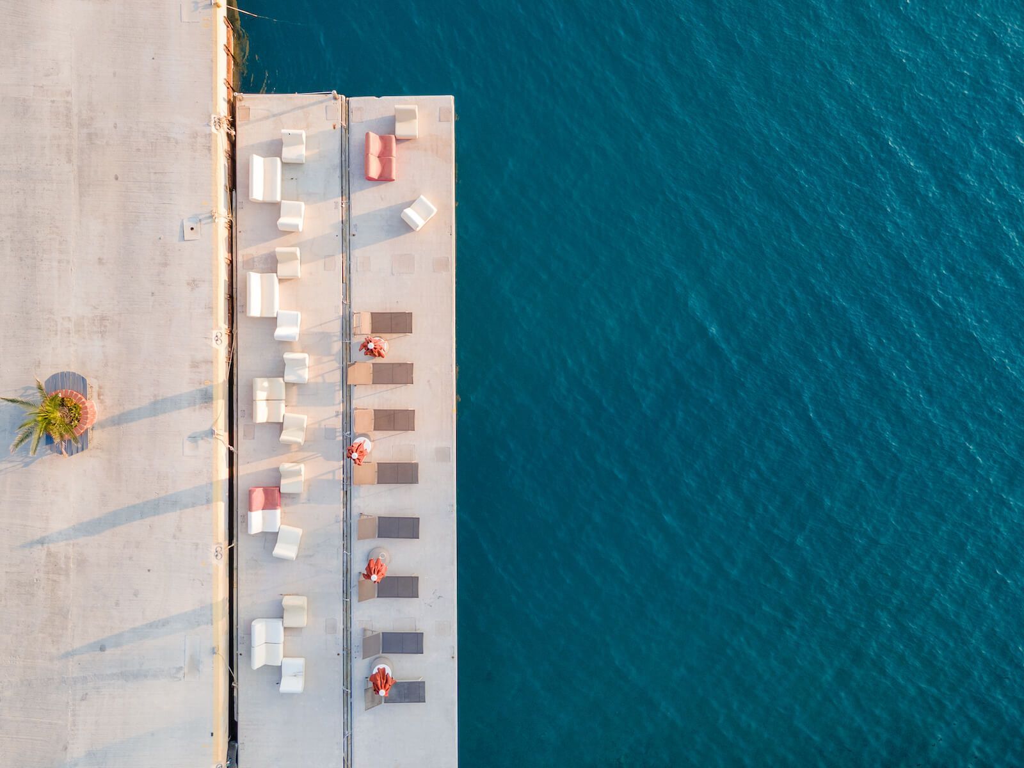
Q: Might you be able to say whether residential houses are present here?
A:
No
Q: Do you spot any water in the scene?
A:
Yes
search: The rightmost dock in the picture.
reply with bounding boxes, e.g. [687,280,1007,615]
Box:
[350,96,458,768]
